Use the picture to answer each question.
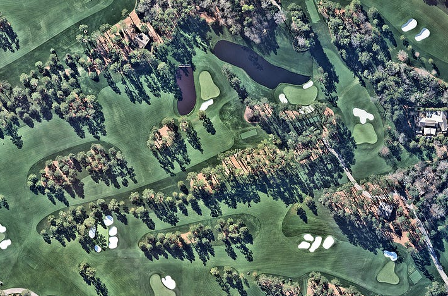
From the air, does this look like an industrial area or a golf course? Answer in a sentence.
This looks like a golf course.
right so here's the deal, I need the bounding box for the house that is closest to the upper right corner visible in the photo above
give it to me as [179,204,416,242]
[416,110,448,135]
